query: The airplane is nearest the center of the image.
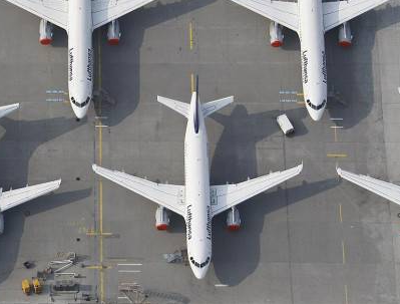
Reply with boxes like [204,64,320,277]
[91,77,302,280]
